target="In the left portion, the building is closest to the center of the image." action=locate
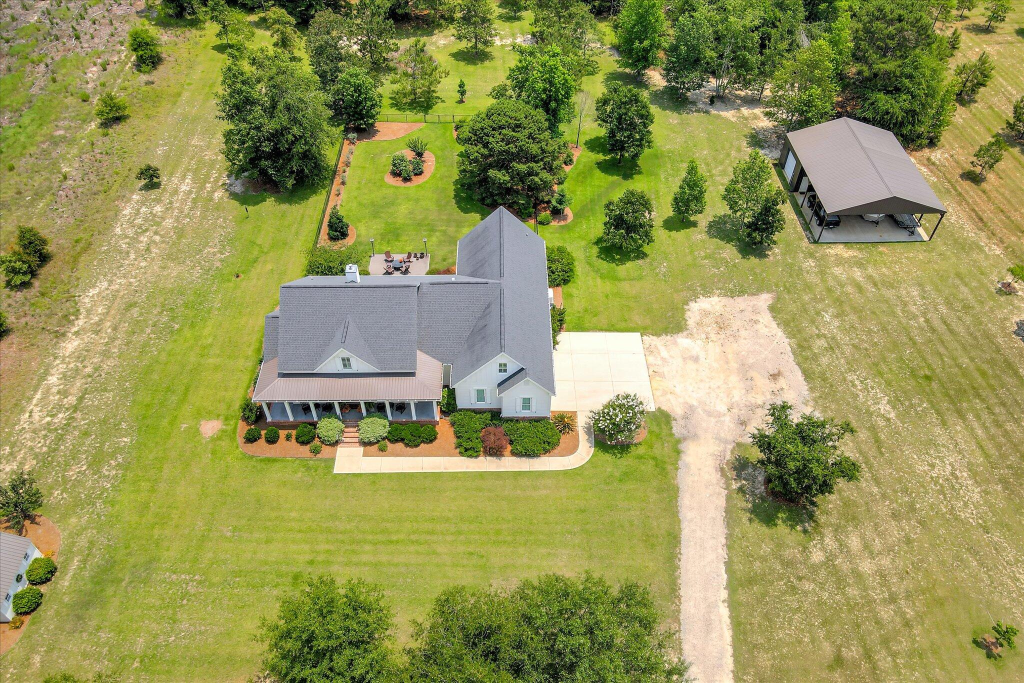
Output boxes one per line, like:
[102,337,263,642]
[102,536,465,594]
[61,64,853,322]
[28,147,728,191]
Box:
[250,206,558,447]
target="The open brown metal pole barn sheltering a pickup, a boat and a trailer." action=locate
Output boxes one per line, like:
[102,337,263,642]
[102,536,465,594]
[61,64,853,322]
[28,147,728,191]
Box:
[779,116,947,242]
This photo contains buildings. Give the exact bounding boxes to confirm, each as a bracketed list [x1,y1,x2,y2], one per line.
[0,525,42,621]
[779,116,947,242]
[250,206,558,447]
